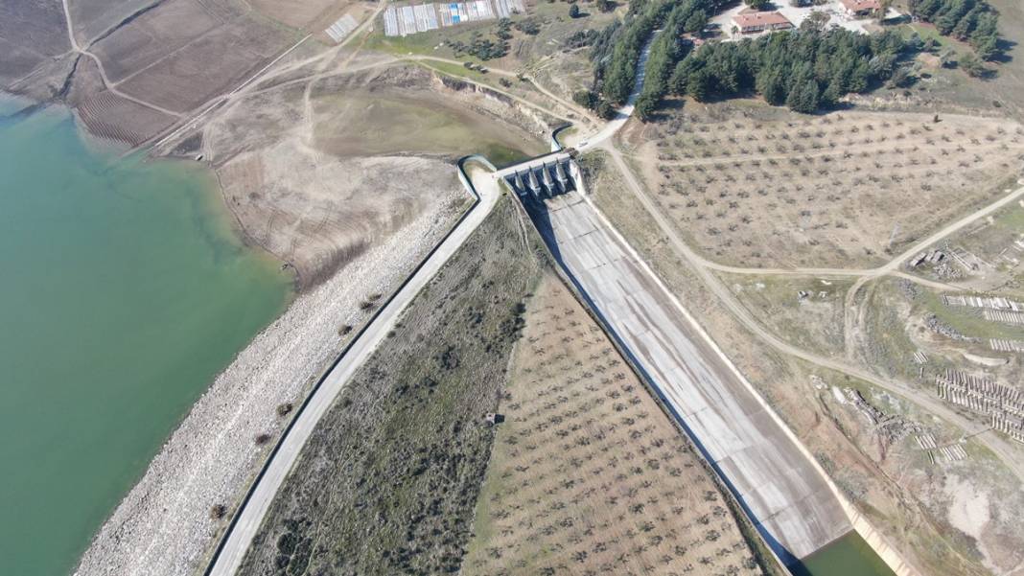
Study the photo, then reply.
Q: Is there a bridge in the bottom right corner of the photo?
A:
No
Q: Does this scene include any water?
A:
Yes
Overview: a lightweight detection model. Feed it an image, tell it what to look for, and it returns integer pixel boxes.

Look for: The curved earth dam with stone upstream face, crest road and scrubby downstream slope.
[78,155,564,576]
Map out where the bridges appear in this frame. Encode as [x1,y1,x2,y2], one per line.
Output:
[497,148,572,179]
